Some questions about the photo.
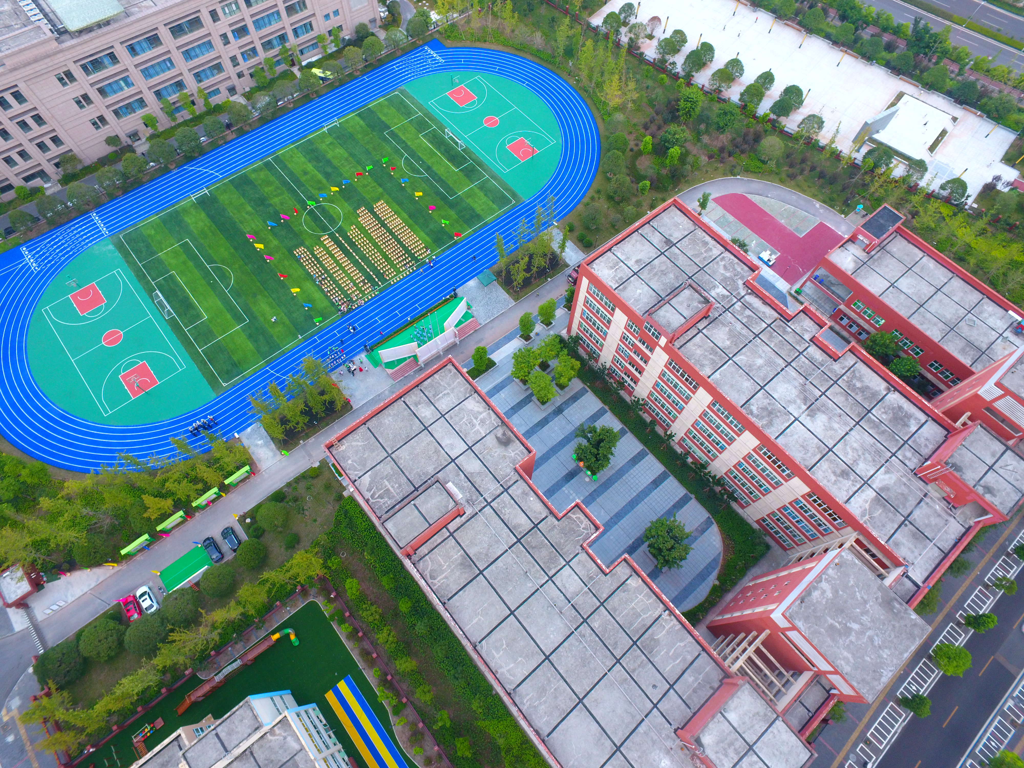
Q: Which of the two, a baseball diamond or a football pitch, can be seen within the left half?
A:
football pitch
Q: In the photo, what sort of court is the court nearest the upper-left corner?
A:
basketball court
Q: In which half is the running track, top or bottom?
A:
top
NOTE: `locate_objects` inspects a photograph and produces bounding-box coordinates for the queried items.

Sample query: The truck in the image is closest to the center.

[562,259,584,283]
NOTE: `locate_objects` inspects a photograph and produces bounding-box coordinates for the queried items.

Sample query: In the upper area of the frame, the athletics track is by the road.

[0,39,600,471]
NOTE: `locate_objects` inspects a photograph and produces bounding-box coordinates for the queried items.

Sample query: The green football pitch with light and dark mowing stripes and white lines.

[107,86,526,396]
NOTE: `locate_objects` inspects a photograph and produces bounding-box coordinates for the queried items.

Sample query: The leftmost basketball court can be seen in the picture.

[28,237,216,423]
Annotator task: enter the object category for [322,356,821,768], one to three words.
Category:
building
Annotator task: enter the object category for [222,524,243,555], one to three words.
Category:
car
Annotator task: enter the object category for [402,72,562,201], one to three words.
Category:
basketball court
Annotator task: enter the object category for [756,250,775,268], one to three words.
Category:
vehicle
